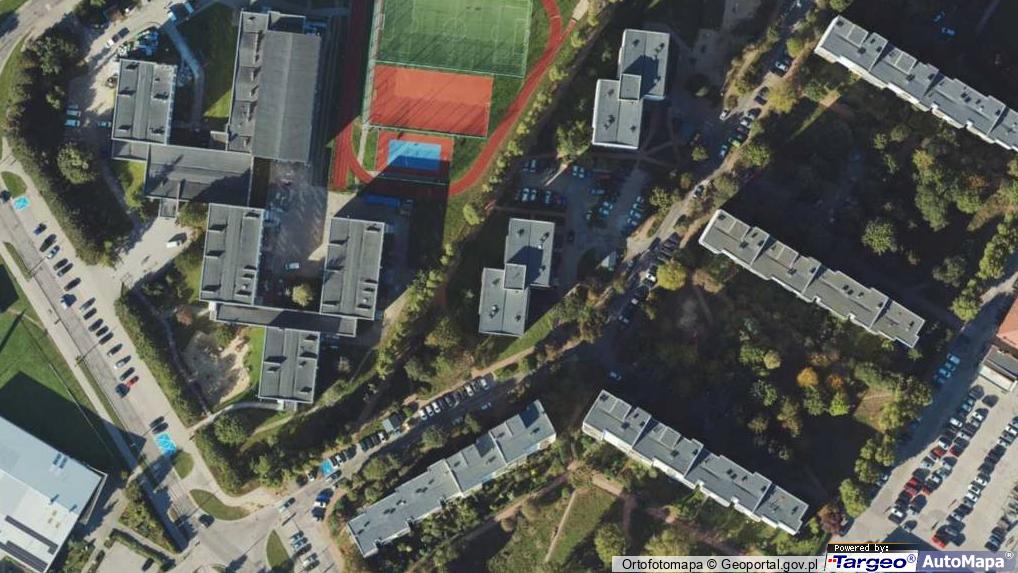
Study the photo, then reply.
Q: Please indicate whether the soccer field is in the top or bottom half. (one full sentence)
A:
Seen from above, the soccer field lies in the top half of the view.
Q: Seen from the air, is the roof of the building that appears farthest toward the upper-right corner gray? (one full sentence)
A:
Yes, gray is the color of the roof of the building that appears farthest toward the upper-right corner.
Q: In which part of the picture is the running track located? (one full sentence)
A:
You can find the running track in the top area of the picture.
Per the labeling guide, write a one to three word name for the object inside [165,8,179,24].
vehicle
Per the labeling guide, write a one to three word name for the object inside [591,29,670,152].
building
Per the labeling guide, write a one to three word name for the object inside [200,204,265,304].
building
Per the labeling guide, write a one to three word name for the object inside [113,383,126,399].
vehicle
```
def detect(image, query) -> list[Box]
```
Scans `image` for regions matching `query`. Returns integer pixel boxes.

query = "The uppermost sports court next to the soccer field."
[369,66,492,136]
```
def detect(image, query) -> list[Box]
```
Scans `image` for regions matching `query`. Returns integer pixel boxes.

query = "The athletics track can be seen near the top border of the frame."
[331,0,578,201]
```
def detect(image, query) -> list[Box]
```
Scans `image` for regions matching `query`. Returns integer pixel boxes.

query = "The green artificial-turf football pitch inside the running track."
[376,0,533,78]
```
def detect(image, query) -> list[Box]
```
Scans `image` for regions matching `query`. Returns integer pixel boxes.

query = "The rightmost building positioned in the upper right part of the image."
[813,17,1018,164]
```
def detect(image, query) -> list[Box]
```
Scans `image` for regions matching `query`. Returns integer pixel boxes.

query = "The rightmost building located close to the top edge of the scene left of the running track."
[210,10,322,162]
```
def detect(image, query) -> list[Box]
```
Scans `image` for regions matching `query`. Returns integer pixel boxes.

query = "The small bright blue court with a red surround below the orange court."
[375,130,454,182]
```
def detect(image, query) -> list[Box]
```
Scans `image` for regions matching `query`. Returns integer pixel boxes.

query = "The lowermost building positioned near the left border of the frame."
[0,414,108,573]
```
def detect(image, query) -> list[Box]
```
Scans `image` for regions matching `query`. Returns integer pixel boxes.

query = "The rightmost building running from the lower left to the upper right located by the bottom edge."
[349,400,555,555]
